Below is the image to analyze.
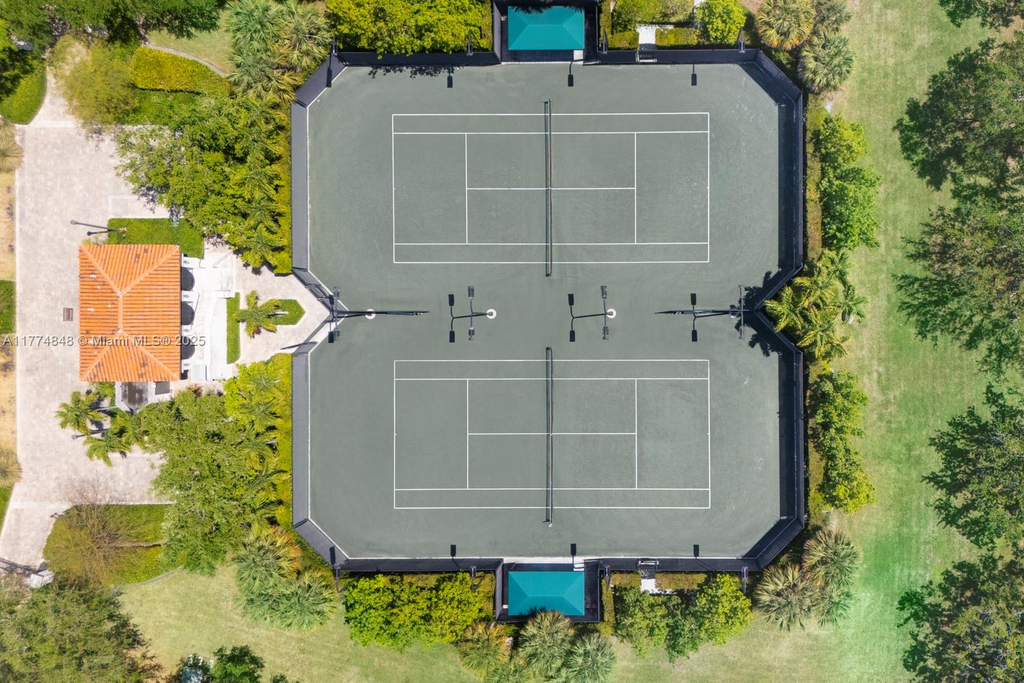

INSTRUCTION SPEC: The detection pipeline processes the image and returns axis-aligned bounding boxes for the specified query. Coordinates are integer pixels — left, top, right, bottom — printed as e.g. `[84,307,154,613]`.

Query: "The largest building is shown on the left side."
[76,243,198,415]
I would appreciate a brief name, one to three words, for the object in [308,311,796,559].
tennis court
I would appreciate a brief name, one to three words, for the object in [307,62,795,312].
tennis court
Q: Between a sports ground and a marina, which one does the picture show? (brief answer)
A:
sports ground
